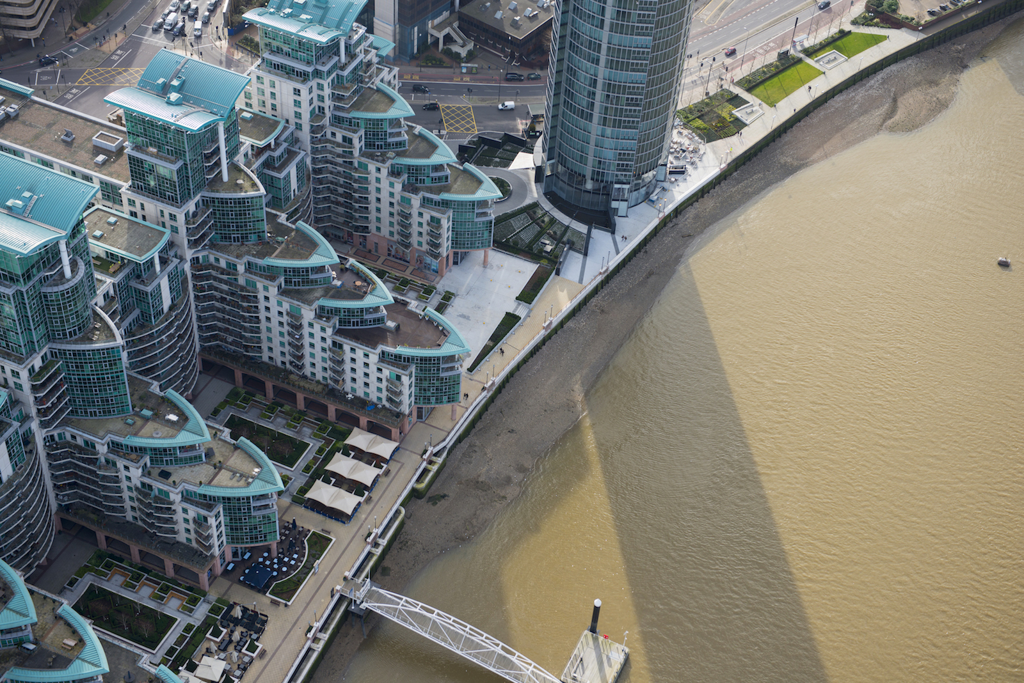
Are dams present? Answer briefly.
No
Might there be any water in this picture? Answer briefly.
Yes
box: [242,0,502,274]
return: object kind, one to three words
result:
building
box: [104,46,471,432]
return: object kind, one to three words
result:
building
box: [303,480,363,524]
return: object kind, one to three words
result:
tent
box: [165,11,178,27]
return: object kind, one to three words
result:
vehicle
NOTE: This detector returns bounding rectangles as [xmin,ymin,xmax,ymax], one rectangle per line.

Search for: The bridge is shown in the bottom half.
[362,583,567,683]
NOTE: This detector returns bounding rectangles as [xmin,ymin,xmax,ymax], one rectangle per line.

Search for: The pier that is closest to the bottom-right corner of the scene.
[558,625,632,683]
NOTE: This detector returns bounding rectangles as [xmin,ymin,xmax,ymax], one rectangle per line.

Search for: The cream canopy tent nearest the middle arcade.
[344,428,400,468]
